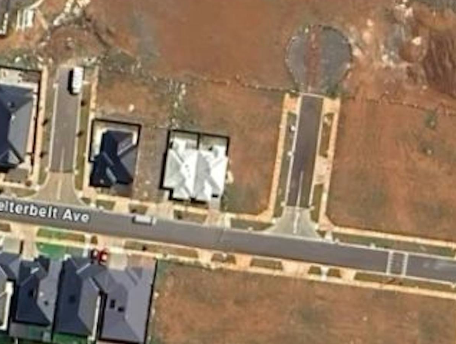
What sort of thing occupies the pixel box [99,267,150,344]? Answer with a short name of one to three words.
house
